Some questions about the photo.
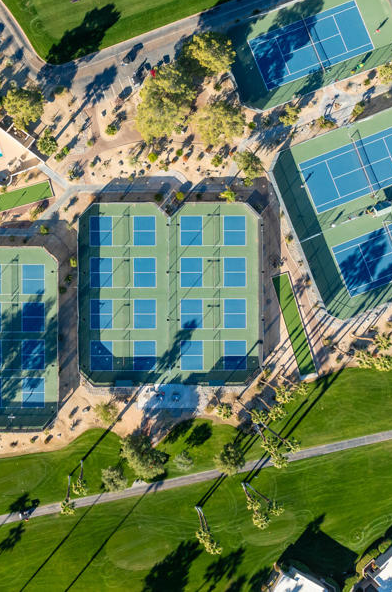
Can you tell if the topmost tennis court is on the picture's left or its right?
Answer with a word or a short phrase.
right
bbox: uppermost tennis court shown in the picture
[230,0,392,109]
